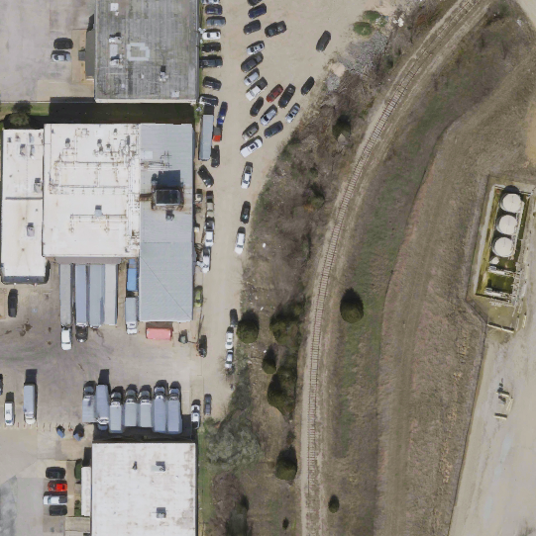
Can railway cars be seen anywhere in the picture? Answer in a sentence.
No, no railway car can be seen from above.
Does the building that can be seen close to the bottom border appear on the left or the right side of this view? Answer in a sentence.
It is on the left.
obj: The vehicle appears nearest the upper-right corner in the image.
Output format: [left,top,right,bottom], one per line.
[316,31,332,52]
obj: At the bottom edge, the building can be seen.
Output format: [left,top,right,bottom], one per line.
[82,442,197,536]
